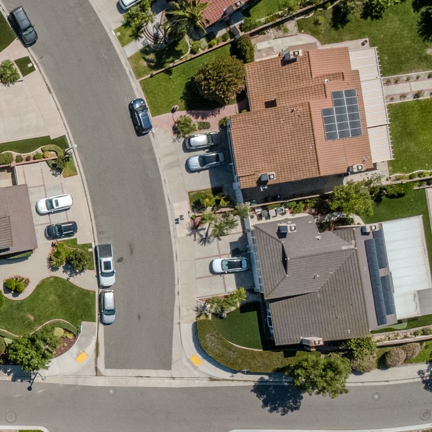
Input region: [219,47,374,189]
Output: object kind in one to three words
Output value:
house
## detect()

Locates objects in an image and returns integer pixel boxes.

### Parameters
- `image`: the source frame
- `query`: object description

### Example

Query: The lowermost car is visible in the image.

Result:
[99,290,117,324]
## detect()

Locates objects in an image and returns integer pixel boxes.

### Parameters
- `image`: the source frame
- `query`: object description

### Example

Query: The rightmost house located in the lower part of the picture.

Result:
[246,215,398,347]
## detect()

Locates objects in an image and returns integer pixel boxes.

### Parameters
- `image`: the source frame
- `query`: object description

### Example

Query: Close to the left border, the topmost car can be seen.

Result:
[8,7,35,45]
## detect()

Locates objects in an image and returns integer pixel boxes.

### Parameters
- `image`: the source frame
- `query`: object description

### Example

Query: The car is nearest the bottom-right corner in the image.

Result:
[209,257,248,274]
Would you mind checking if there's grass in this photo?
Yes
